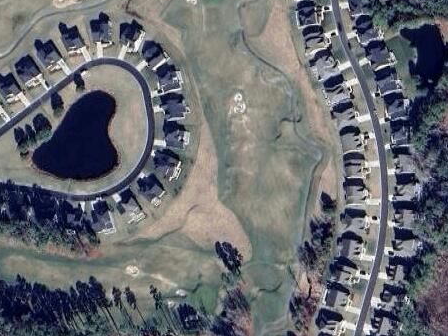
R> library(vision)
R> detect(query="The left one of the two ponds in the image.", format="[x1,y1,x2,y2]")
[32,90,118,181]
